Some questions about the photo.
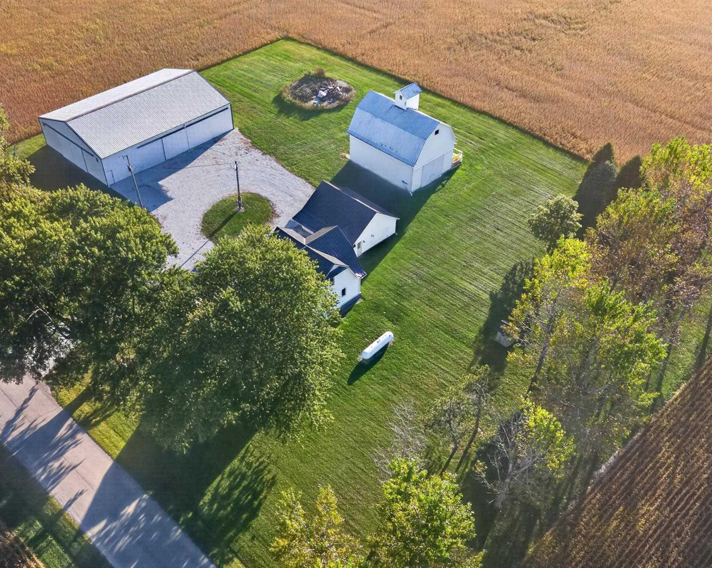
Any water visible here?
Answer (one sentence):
No, there is no water in the image.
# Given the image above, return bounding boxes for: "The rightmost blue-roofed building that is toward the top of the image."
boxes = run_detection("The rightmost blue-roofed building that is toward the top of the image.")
[344,83,457,193]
